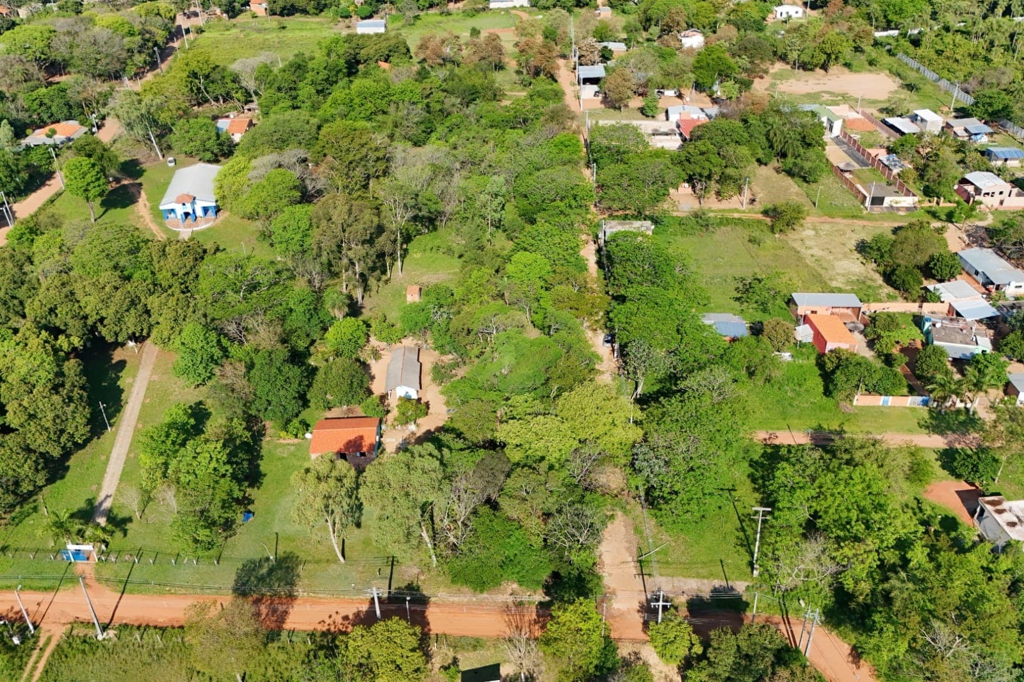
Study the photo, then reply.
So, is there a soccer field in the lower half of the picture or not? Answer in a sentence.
No, no soccer field appears in the lower half of the picture.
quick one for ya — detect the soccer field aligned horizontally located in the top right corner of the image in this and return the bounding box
[784,70,902,98]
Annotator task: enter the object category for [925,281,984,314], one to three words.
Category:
shed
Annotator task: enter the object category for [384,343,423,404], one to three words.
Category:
house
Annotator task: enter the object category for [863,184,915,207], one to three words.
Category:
building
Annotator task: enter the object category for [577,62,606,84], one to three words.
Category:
barn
